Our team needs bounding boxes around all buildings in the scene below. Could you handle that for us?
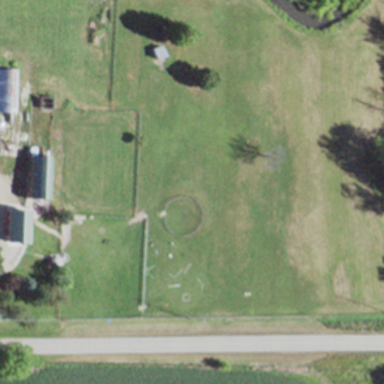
[0,67,21,114]
[29,150,52,200]
[8,206,32,244]
[151,45,170,60]
[40,96,54,108]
